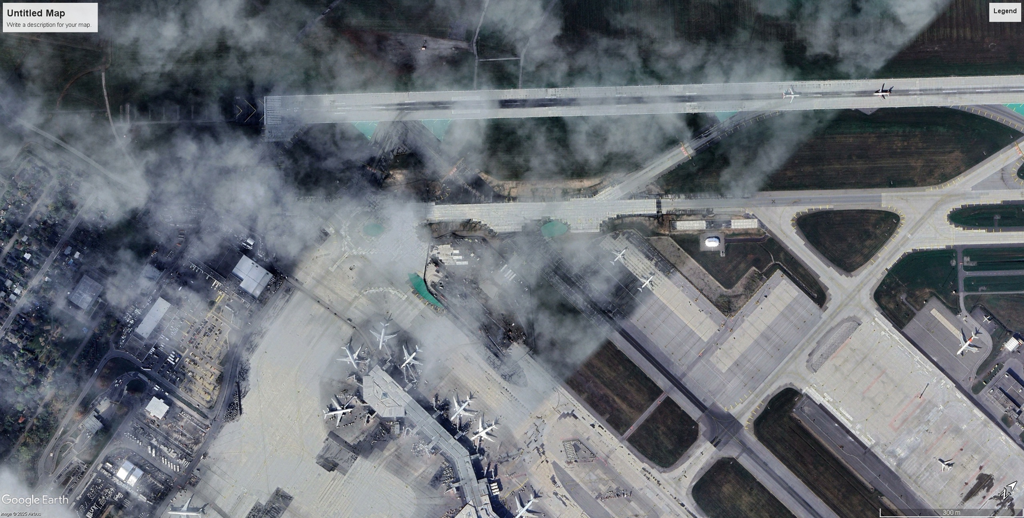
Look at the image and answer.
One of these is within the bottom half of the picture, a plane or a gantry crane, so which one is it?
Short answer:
plane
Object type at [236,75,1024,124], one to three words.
runway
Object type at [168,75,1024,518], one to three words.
airport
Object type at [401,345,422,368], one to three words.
airplane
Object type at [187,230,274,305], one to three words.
building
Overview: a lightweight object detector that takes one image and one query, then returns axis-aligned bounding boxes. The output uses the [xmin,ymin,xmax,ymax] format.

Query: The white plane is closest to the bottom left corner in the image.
[167,498,201,518]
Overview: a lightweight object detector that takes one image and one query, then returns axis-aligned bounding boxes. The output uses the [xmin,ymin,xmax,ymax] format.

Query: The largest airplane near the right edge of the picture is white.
[957,328,981,355]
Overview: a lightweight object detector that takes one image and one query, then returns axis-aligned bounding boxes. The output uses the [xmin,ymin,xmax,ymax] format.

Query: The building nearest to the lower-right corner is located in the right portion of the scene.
[988,372,1024,424]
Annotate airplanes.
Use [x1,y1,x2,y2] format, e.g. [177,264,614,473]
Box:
[874,84,891,100]
[401,345,422,368]
[783,87,800,102]
[167,498,201,518]
[322,399,353,427]
[609,248,627,265]
[514,494,539,518]
[451,393,475,421]
[939,460,953,471]
[471,417,499,442]
[636,276,653,292]
[957,328,981,355]
[337,343,360,369]
[369,321,397,350]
